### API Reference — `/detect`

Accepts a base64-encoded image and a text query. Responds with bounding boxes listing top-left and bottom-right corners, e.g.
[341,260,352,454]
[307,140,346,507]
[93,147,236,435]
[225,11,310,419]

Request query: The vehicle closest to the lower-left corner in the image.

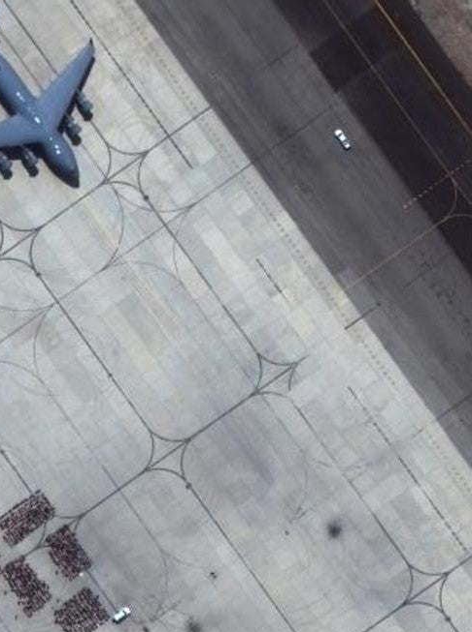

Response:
[111,607,130,621]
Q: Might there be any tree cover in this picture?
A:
No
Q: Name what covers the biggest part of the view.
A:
paved ground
